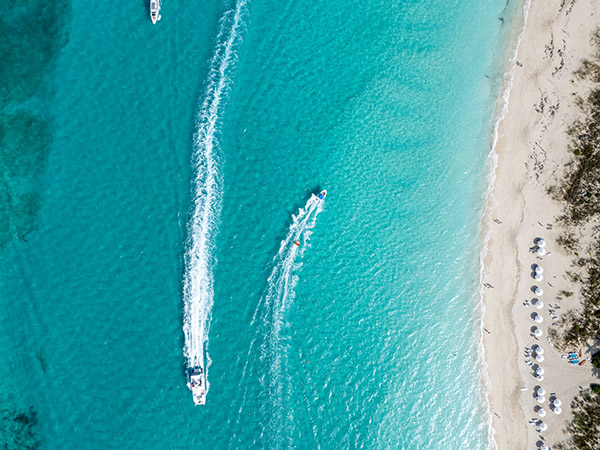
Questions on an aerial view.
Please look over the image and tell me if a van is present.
No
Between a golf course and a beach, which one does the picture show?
beach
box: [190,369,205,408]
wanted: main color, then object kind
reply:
white boat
